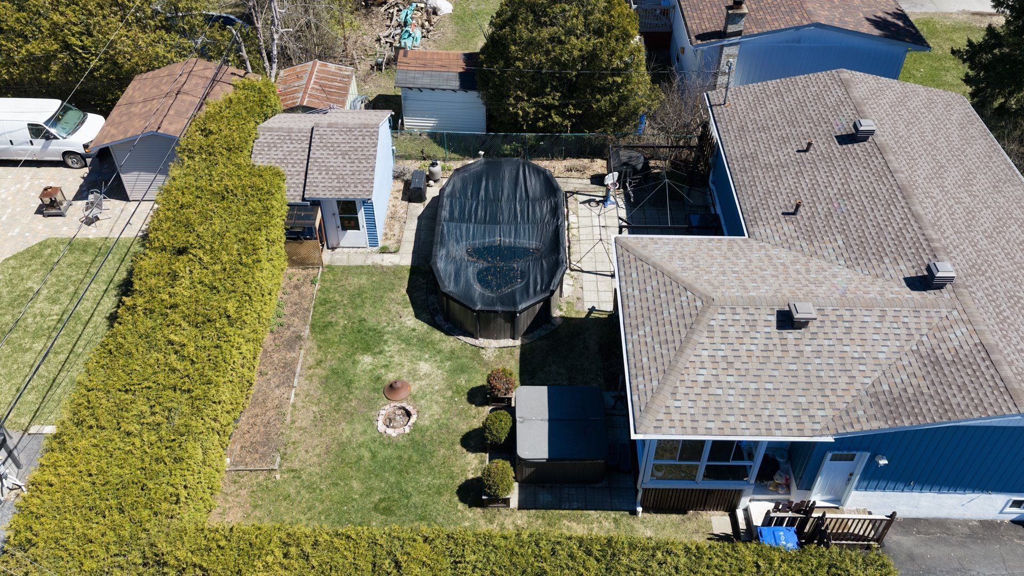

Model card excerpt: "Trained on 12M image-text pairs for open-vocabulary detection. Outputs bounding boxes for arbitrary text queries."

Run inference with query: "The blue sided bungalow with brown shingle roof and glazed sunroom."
[607,58,1024,522]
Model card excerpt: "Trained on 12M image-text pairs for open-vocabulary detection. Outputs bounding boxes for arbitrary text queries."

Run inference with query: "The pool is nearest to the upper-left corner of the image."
[430,157,568,342]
